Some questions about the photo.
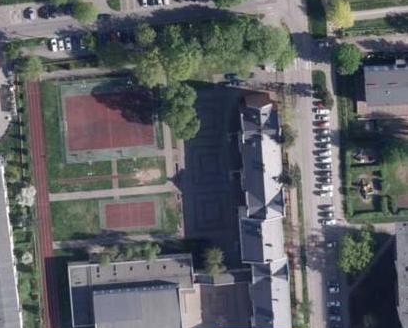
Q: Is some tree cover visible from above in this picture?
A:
Yes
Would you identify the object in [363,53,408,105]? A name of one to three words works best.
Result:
building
